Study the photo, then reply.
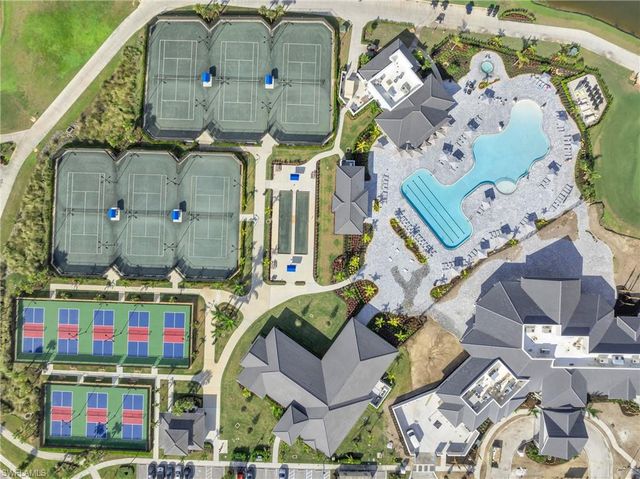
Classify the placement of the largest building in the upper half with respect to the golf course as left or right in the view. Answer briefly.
to the left of it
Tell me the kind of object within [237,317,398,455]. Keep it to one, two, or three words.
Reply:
building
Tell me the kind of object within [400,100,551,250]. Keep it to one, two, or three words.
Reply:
swimming pool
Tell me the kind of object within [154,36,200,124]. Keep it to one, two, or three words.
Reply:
tennis court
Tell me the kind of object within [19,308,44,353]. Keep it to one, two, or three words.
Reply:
sports court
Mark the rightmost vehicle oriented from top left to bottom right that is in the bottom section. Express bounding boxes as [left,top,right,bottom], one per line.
[406,431,422,452]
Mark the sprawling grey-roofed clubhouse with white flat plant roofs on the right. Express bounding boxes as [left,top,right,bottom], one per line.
[437,278,640,430]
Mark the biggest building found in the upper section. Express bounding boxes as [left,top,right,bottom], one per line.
[359,39,456,149]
